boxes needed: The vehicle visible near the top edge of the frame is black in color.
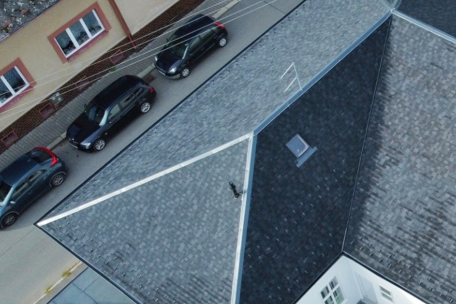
[147,13,228,81]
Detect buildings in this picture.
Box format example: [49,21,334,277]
[0,0,200,150]
[32,0,456,304]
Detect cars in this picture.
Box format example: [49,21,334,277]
[54,69,157,155]
[147,13,228,81]
[0,147,66,230]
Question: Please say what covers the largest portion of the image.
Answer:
buildings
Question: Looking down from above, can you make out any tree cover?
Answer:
No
